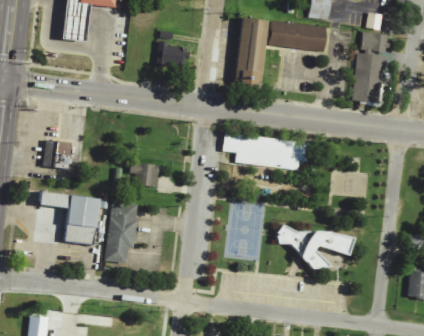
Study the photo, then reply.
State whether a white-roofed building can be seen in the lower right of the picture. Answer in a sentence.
Yes, the scene does show a white-roofed building in the lower right of the picture.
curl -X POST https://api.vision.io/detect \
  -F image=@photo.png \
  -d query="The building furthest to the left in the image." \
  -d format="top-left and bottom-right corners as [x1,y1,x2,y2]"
[28,314,48,336]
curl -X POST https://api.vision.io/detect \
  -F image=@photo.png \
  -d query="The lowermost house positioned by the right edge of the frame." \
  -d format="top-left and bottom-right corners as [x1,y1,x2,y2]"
[408,272,424,300]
